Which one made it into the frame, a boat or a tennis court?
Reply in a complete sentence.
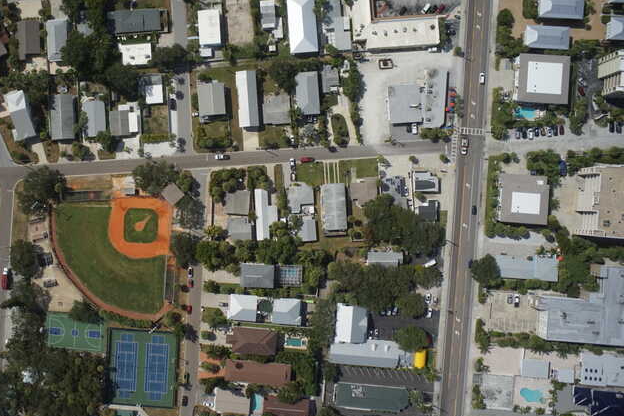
This aerial view contains a tennis court.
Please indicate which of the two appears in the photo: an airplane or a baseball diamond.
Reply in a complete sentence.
The image shows a baseball diamond.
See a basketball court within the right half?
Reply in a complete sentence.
No, looking within the right half, there is no basketball court.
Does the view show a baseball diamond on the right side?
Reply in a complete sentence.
No, there's no baseball diamond to be seen on the right side.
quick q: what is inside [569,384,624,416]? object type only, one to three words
house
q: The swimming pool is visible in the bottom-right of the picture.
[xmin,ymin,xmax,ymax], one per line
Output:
[519,387,545,403]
